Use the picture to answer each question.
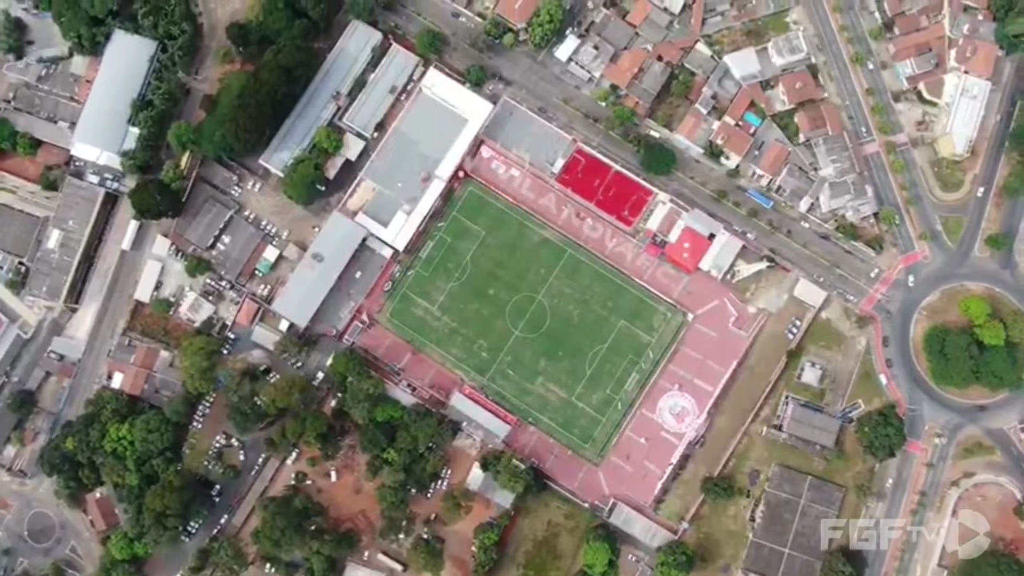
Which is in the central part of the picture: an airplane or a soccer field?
soccer field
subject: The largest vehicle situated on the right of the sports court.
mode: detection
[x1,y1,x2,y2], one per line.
[745,189,774,208]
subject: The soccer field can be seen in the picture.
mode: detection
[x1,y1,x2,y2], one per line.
[377,174,683,462]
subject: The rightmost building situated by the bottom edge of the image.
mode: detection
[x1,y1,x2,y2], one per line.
[733,460,845,576]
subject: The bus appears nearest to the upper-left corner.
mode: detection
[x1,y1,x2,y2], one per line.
[120,220,141,250]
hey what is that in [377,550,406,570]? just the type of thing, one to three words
vehicle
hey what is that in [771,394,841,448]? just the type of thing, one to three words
building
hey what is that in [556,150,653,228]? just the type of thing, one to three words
sports court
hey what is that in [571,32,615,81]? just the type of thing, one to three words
house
